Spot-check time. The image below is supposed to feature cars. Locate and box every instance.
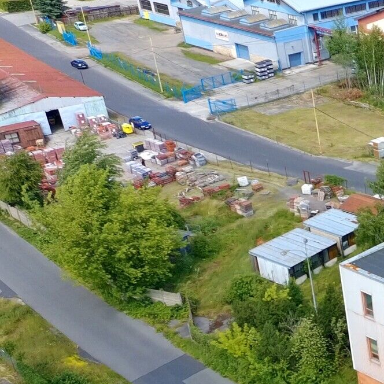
[126,111,153,129]
[72,17,90,29]
[67,55,89,69]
